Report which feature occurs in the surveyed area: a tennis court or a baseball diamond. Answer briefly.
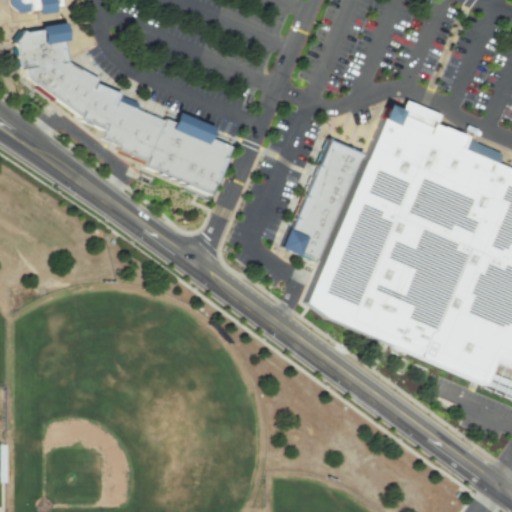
baseball diamond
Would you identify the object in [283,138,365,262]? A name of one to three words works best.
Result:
building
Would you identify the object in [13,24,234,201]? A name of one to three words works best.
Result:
building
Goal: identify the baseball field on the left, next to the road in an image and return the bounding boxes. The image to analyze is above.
[14,284,266,512]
